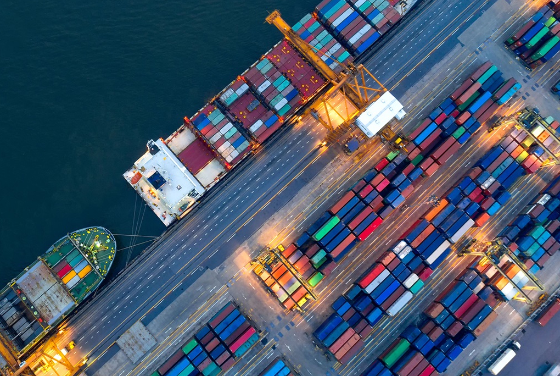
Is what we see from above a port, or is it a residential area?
port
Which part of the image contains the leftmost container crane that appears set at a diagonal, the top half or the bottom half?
bottom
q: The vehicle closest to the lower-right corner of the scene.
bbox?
[540,354,560,376]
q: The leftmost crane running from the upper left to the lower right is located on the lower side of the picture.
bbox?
[249,240,317,312]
